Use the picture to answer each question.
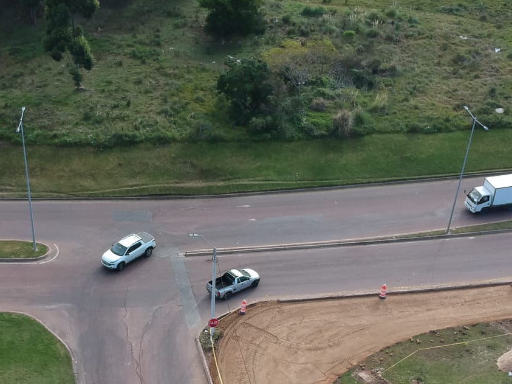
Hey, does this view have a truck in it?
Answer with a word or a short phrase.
Yes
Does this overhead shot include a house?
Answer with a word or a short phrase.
No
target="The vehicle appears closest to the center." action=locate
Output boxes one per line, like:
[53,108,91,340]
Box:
[207,266,261,300]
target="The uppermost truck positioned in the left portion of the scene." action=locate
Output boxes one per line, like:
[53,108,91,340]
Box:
[100,232,158,271]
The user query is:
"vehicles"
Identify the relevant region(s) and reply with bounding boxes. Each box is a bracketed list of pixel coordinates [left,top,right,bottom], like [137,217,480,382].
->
[100,232,158,271]
[207,266,261,300]
[468,173,512,213]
